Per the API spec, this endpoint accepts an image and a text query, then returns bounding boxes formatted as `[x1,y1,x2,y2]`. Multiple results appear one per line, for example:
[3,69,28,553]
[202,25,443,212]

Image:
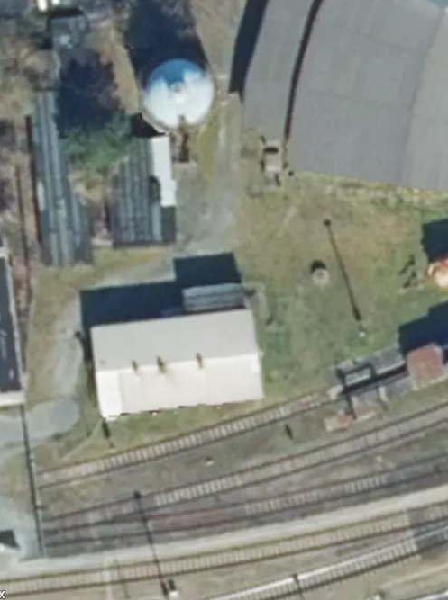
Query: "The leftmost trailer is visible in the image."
[260,144,282,189]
